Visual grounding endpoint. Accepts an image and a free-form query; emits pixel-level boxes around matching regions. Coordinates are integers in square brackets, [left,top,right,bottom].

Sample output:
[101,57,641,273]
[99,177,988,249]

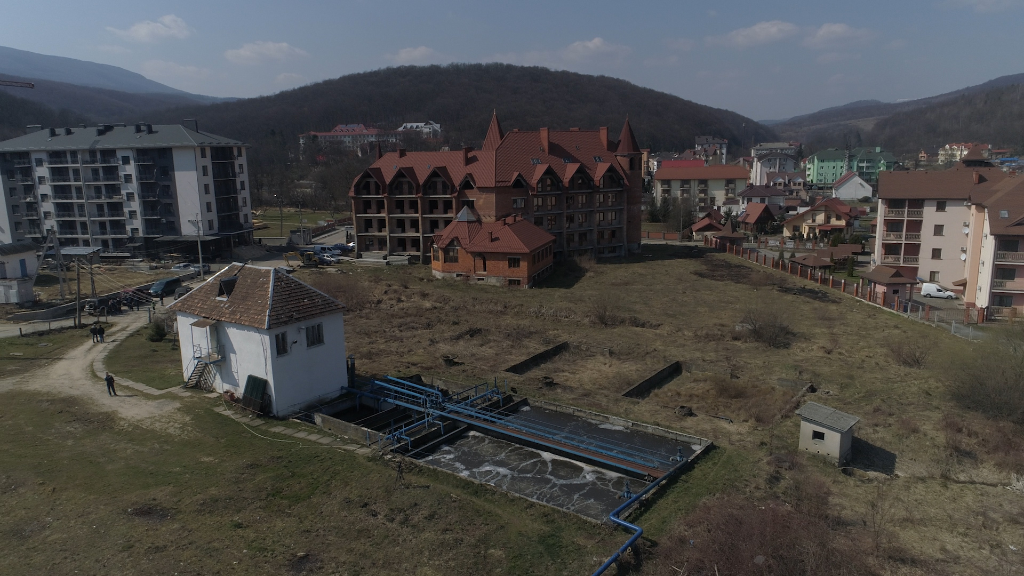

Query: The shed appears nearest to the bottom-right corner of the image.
[790,398,870,466]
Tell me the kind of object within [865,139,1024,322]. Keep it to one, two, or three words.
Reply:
house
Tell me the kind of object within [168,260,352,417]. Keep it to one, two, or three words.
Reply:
building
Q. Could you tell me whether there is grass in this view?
Yes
